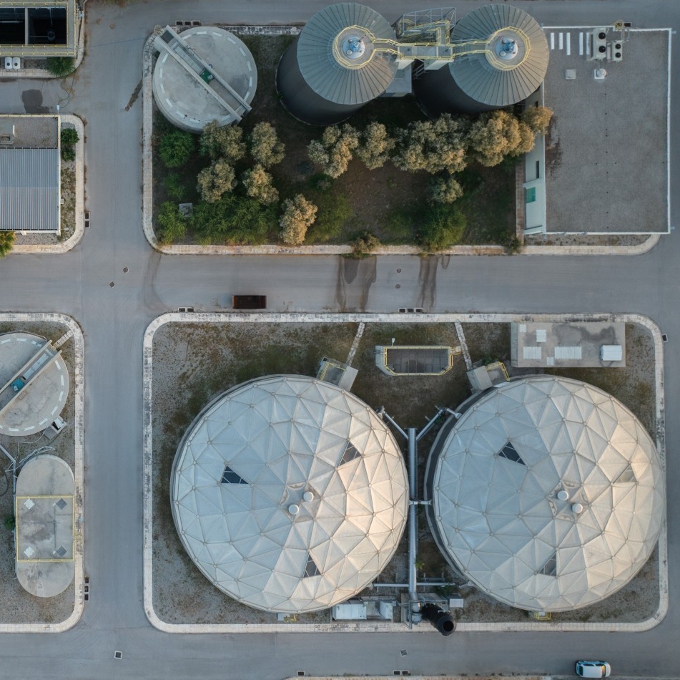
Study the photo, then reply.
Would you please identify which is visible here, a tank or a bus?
tank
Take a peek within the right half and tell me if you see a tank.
Yes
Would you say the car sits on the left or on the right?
right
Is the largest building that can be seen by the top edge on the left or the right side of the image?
right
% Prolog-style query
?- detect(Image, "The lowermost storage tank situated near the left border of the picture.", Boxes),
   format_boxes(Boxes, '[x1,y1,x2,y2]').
[17,455,75,597]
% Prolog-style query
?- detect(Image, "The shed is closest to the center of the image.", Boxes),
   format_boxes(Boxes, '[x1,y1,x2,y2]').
[316,358,358,392]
